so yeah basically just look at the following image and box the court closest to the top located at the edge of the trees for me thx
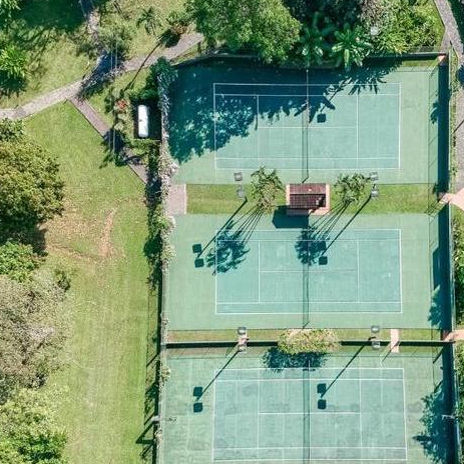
[168,56,442,184]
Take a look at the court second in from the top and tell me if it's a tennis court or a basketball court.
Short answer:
tennis court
